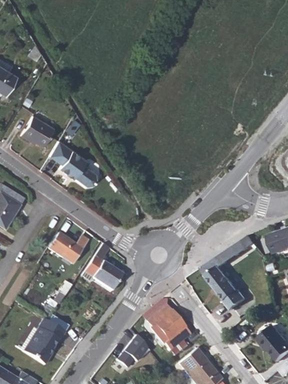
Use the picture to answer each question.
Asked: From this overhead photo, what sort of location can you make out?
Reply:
residential area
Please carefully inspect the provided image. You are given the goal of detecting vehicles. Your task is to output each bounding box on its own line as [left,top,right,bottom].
[222,312,232,322]
[222,364,232,374]
[216,307,227,316]
[16,251,24,262]
[49,216,58,229]
[238,331,248,341]
[193,197,202,208]
[68,329,78,341]
[52,165,60,174]
[242,359,252,370]
[62,220,71,232]
[144,281,152,292]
